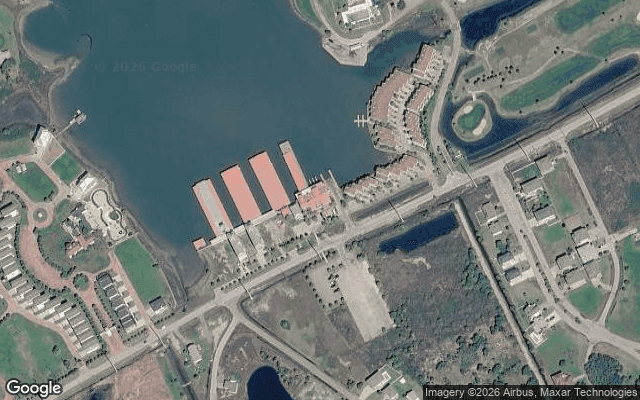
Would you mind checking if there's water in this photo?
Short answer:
Yes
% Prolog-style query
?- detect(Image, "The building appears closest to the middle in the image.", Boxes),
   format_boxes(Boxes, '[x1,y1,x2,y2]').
[298,184,331,213]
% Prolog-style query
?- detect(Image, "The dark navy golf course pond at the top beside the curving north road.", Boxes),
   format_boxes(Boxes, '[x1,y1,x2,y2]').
[461,0,541,49]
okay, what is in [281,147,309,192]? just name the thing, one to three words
shed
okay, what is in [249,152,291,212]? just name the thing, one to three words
shed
